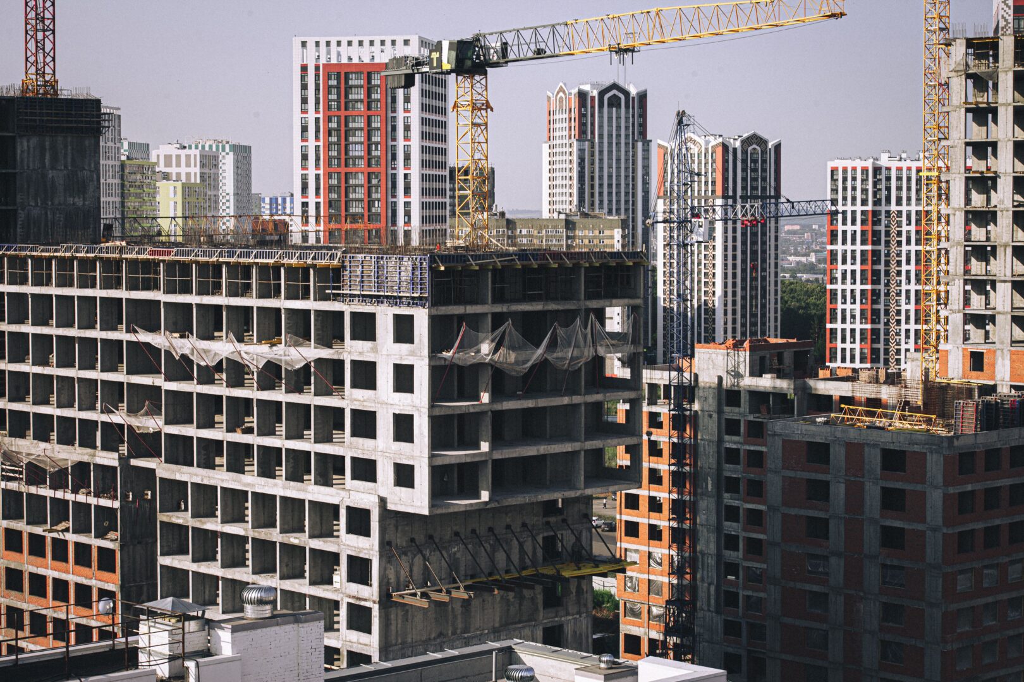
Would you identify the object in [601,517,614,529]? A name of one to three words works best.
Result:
vehicle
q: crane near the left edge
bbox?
[17,0,62,99]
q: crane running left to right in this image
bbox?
[372,0,856,245]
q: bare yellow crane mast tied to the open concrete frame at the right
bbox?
[920,0,974,413]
